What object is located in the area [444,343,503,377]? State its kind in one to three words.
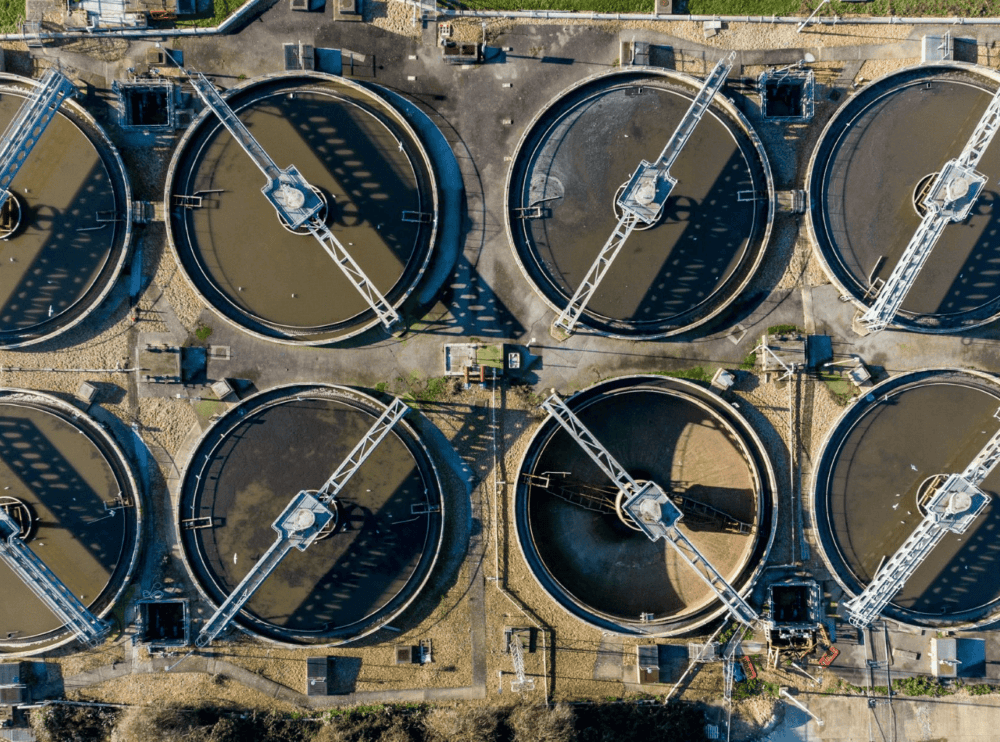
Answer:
building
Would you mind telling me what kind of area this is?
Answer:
industrial area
